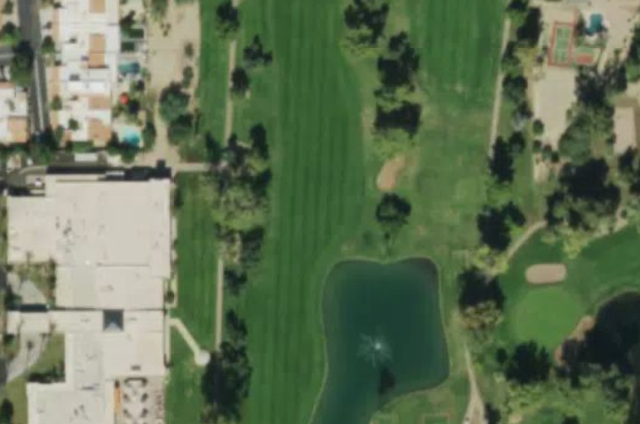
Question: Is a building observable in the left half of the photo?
Yes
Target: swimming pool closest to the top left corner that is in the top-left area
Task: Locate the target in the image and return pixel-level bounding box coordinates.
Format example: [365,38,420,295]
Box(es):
[118,61,139,74]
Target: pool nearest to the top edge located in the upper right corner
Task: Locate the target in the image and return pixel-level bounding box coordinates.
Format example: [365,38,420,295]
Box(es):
[585,13,604,35]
